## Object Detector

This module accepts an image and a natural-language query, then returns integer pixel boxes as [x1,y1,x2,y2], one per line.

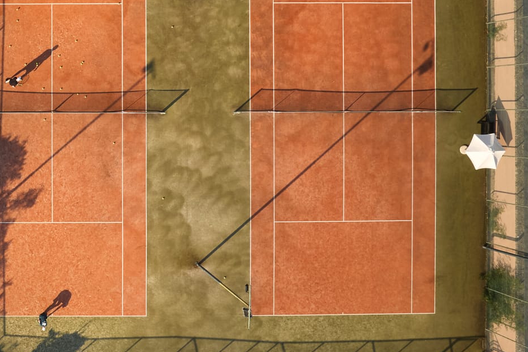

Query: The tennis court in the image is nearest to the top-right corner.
[249,0,436,316]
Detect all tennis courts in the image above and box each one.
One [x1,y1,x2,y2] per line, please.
[0,0,147,317]
[249,0,436,316]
